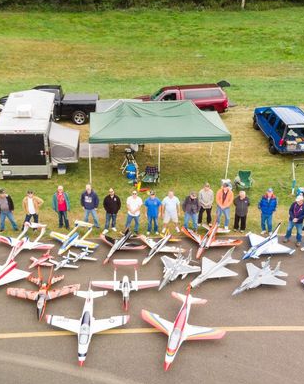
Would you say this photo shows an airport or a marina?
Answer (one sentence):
What you see here is an airport.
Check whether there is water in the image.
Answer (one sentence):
No, no water is visible.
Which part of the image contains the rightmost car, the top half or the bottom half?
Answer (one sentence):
You can find the rightmost car in the top half.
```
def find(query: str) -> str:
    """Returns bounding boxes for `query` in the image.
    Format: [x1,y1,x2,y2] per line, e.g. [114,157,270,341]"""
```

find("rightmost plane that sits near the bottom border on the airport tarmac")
[142,281,229,370]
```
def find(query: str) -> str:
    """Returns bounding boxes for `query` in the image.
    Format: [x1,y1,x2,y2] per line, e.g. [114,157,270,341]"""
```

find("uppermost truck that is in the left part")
[33,80,102,125]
